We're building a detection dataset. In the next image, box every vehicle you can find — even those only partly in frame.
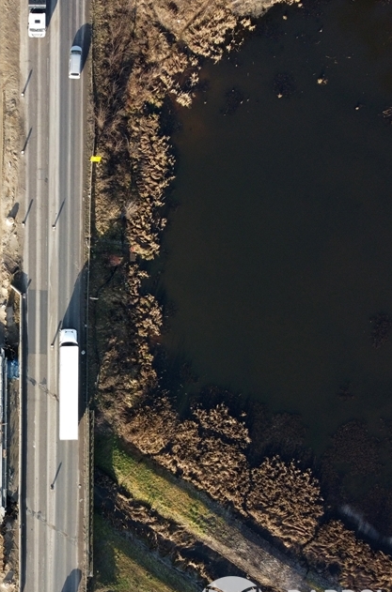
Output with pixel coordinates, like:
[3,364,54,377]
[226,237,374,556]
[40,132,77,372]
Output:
[59,327,78,446]
[26,0,47,36]
[69,46,83,79]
